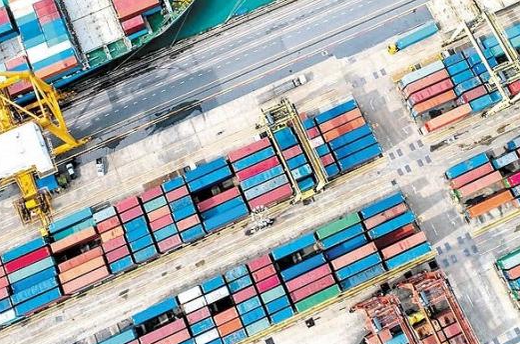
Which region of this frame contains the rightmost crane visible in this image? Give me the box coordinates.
[440,7,520,117]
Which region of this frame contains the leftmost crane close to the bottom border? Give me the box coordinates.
[349,282,423,344]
